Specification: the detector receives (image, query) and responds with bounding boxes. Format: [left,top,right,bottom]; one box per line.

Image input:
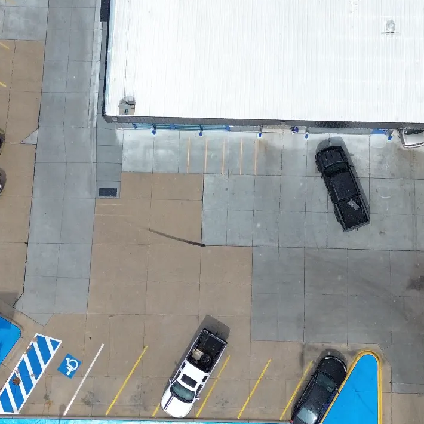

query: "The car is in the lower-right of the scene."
[289,354,346,424]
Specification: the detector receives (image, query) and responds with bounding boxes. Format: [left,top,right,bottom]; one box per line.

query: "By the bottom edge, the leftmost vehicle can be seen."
[164,328,229,423]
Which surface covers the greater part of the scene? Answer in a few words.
paved ground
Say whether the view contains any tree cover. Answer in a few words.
No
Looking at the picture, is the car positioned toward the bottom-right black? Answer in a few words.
Yes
